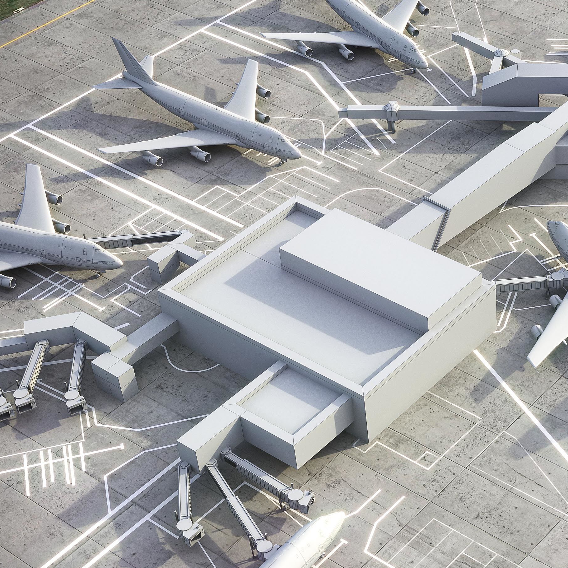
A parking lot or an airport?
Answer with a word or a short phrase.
airport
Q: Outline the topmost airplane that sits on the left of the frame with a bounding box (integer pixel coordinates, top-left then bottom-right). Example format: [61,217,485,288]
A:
[89,37,302,166]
